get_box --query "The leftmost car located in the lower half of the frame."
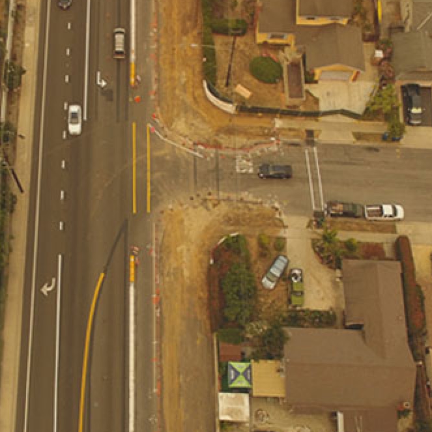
[263,255,289,289]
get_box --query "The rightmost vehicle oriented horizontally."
[365,204,404,221]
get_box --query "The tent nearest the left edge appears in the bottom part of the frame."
[226,361,251,390]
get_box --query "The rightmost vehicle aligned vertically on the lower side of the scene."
[288,267,306,308]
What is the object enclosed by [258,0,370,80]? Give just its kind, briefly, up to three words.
house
